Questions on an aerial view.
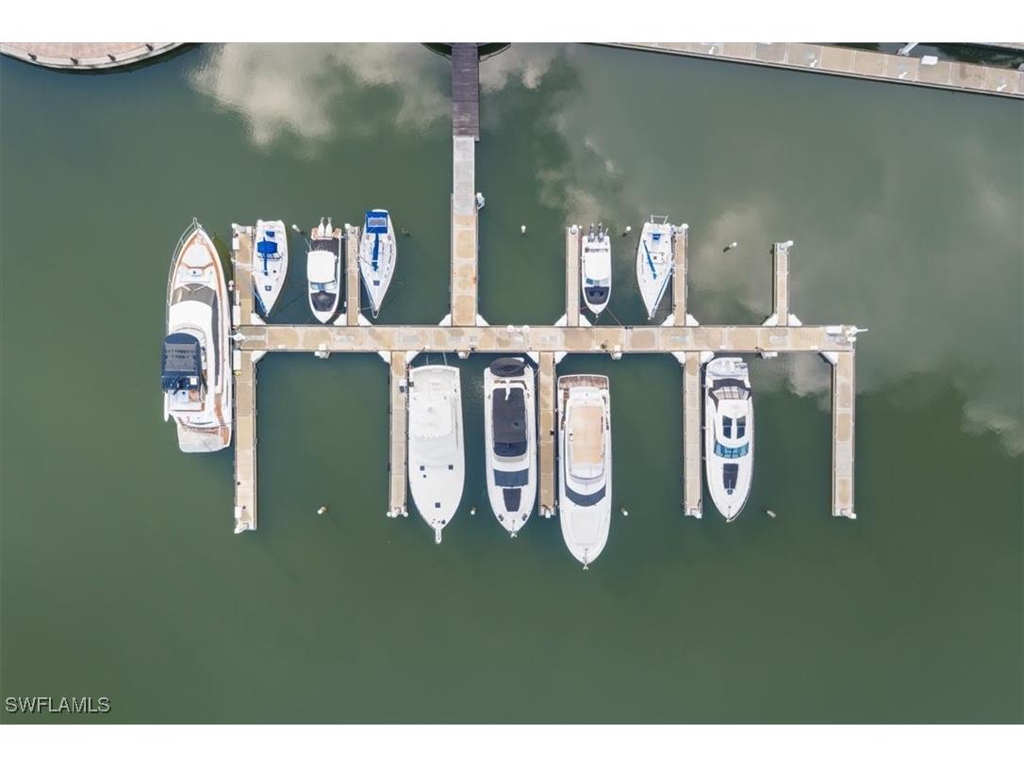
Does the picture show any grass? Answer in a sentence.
No, the scene doesn't show any grass.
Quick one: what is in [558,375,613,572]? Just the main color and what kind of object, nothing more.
white boat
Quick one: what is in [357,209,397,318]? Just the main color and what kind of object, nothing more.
white boat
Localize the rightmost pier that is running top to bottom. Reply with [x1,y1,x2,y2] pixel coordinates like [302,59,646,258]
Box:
[818,352,855,516]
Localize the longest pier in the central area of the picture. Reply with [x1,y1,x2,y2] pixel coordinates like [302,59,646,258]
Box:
[235,326,854,352]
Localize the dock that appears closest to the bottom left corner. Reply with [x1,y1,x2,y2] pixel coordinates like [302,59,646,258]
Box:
[235,352,271,531]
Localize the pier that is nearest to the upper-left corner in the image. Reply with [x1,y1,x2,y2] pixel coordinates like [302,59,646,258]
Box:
[233,224,269,326]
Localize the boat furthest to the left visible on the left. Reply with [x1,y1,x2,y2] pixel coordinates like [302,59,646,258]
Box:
[161,218,235,453]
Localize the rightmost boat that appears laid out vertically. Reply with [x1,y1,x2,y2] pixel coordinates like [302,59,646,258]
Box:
[704,359,756,522]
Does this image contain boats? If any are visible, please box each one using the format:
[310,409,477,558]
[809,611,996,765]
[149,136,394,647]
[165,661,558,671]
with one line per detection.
[357,209,397,318]
[558,375,613,572]
[308,213,342,323]
[484,364,537,540]
[161,218,235,453]
[490,357,526,377]
[234,219,288,318]
[637,214,674,321]
[707,356,747,377]
[408,364,465,543]
[704,359,756,522]
[581,221,611,319]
